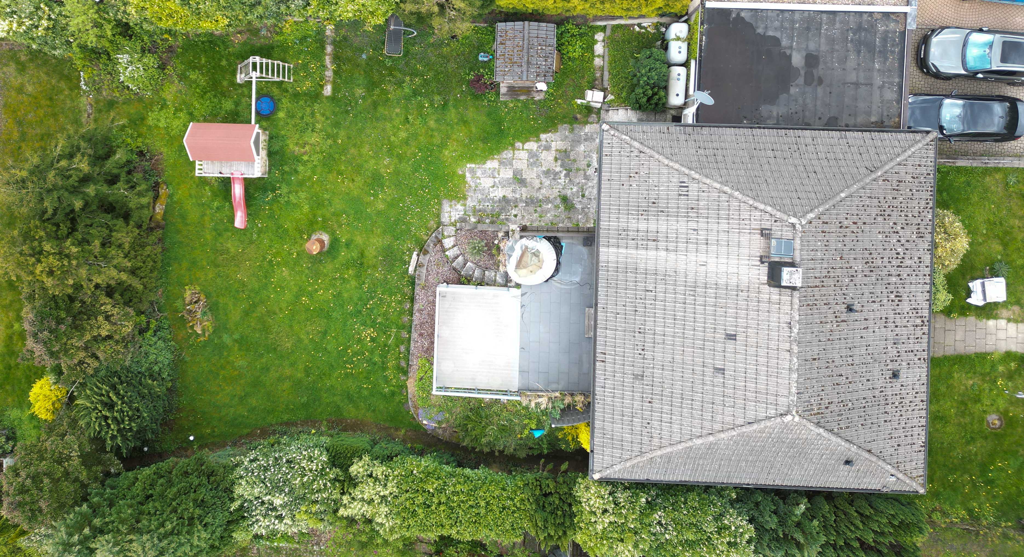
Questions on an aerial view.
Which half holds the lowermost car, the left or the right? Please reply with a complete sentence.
It is on the right.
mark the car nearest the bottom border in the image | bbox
[909,91,1024,147]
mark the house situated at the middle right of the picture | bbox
[590,122,937,493]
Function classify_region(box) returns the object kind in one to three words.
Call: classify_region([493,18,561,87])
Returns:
shed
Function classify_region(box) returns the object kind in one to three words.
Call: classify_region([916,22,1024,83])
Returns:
car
